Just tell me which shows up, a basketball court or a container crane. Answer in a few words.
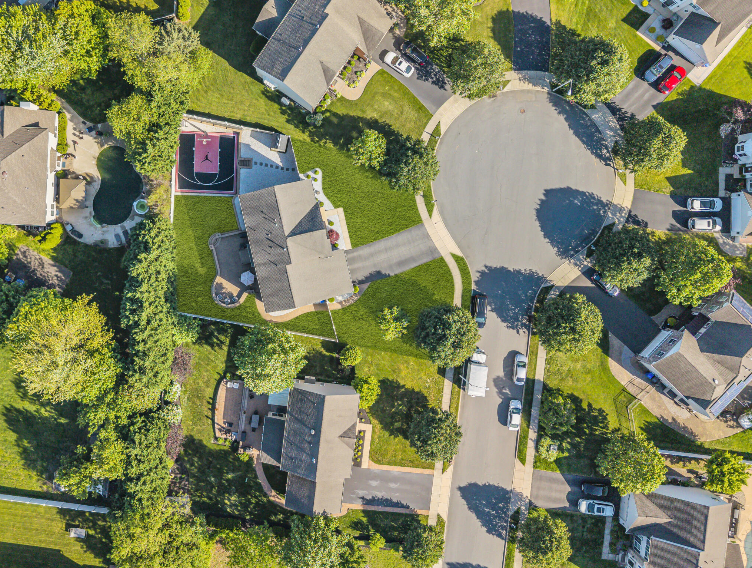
basketball court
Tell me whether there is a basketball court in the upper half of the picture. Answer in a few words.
Yes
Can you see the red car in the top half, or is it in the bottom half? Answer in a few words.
top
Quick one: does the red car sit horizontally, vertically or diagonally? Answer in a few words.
diagonally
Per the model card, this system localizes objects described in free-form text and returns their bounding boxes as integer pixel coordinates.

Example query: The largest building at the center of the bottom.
[259,375,360,516]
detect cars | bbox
[512,353,530,386]
[506,399,523,431]
[687,197,723,212]
[578,498,615,517]
[579,480,609,498]
[687,216,722,232]
[473,294,490,328]
[589,274,621,299]
[382,51,417,77]
[642,51,675,85]
[657,66,687,96]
